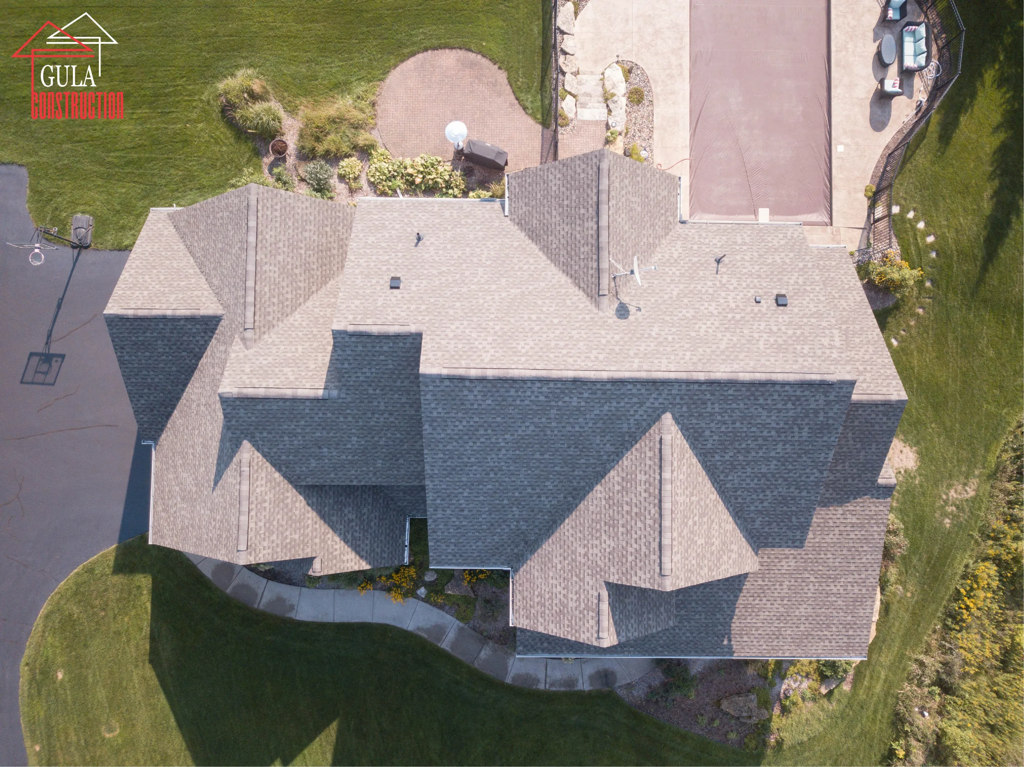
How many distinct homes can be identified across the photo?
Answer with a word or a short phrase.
one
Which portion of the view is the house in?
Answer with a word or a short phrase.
center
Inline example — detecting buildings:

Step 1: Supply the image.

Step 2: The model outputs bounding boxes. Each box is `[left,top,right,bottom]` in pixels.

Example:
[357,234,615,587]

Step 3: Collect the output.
[103,148,908,661]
